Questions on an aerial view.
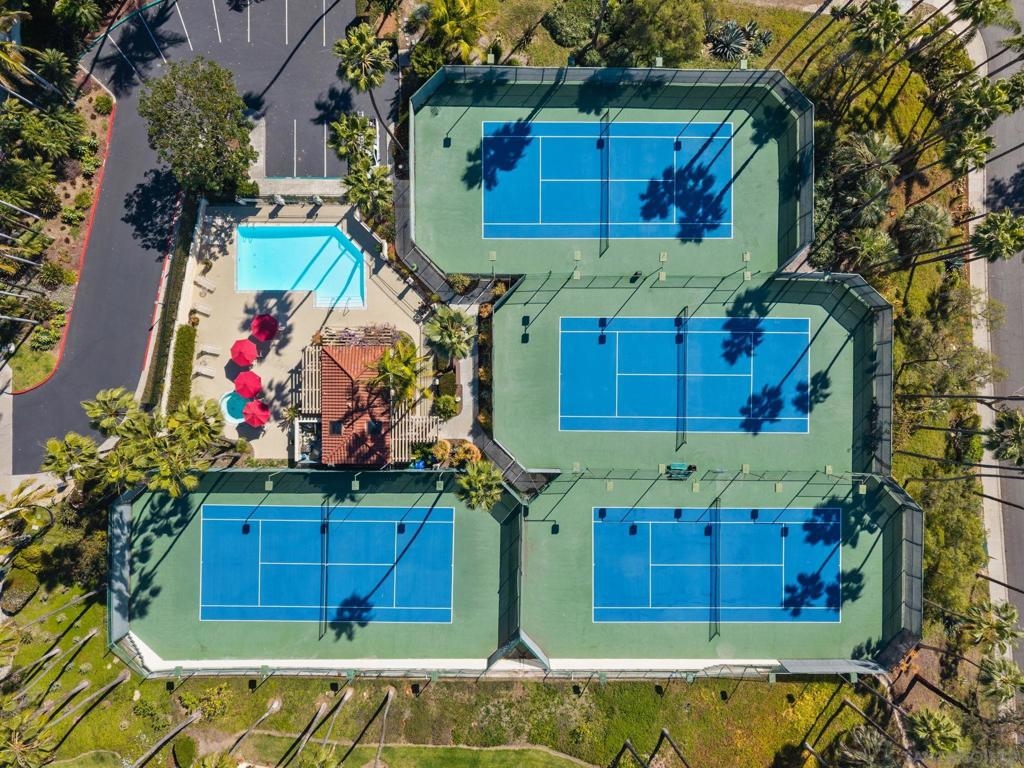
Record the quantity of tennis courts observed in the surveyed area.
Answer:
4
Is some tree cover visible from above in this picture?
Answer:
Yes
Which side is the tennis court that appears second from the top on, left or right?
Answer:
right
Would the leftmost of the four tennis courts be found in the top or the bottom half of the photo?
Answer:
bottom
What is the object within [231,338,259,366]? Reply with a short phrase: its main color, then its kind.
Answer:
red umbrella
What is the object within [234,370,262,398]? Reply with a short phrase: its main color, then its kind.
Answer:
red umbrella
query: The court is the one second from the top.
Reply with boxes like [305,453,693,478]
[493,278,872,471]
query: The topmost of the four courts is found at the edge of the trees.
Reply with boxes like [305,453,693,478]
[414,82,799,278]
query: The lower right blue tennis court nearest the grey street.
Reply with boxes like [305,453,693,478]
[522,471,903,660]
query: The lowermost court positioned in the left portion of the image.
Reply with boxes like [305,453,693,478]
[129,467,521,660]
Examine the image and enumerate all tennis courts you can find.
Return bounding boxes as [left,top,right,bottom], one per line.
[522,471,903,660]
[129,467,521,660]
[414,82,799,278]
[493,278,872,471]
